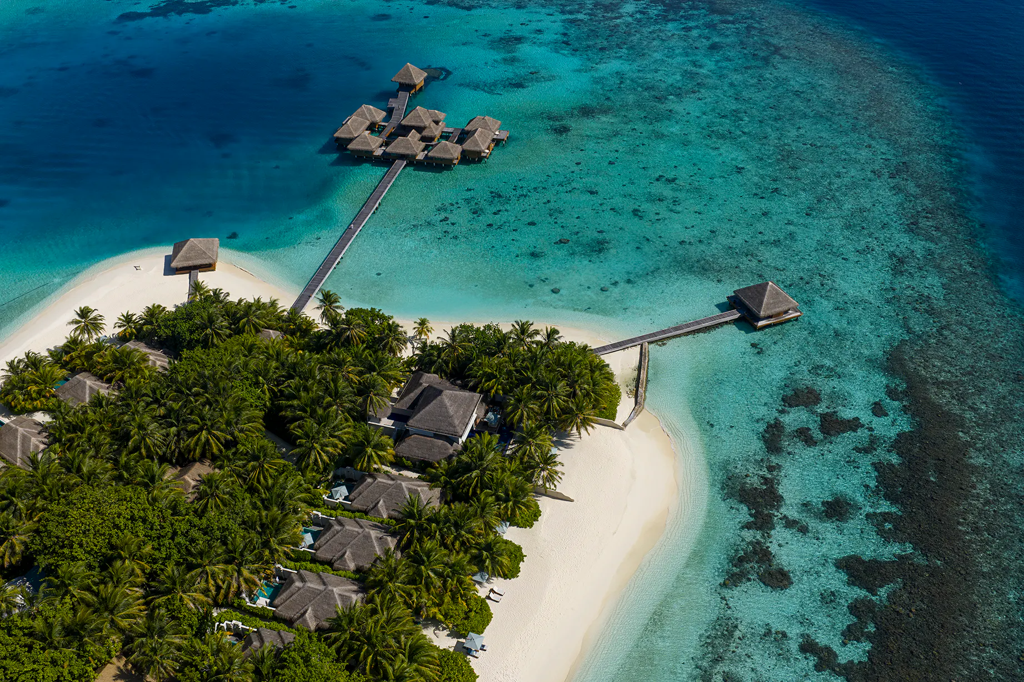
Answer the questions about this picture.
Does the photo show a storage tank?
No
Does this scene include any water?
Yes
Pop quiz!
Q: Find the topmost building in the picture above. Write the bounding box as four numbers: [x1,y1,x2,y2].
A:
[389,63,428,102]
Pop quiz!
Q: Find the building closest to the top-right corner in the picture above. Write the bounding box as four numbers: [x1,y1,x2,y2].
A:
[725,280,804,337]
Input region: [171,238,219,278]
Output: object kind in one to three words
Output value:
building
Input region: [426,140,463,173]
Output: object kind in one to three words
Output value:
house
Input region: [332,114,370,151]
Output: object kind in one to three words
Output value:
house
